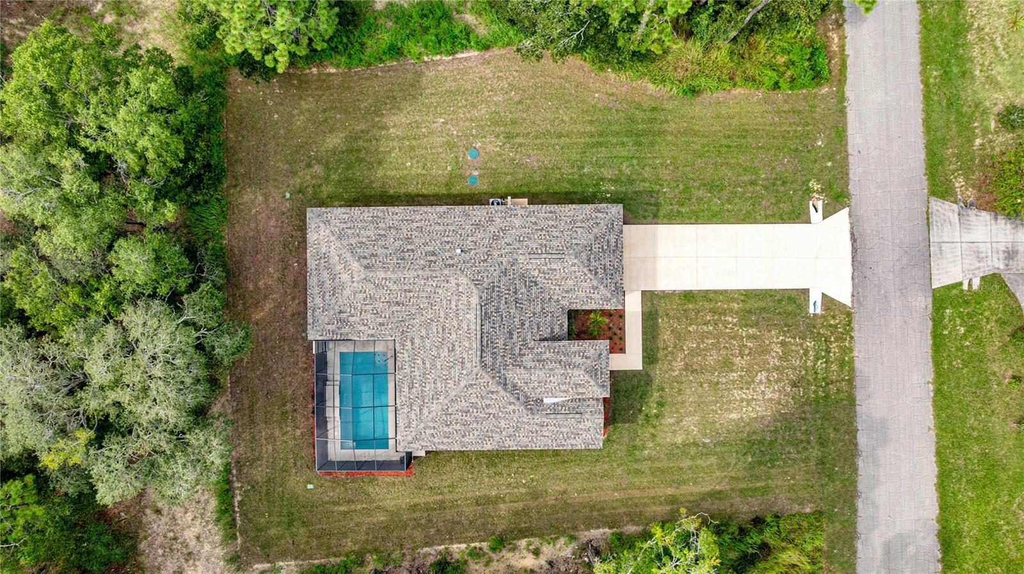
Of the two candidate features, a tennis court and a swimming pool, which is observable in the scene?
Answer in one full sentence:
Of the two, only a swimming pool appears.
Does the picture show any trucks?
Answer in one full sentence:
No, I find no truck anywhere in the image.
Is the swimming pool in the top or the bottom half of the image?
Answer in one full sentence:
It is in the bottom half that the swimming pool appears.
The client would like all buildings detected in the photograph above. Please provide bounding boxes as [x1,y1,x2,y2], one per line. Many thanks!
[306,204,624,450]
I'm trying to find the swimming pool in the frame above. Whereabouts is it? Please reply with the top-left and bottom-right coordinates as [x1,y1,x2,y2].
[336,349,391,453]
